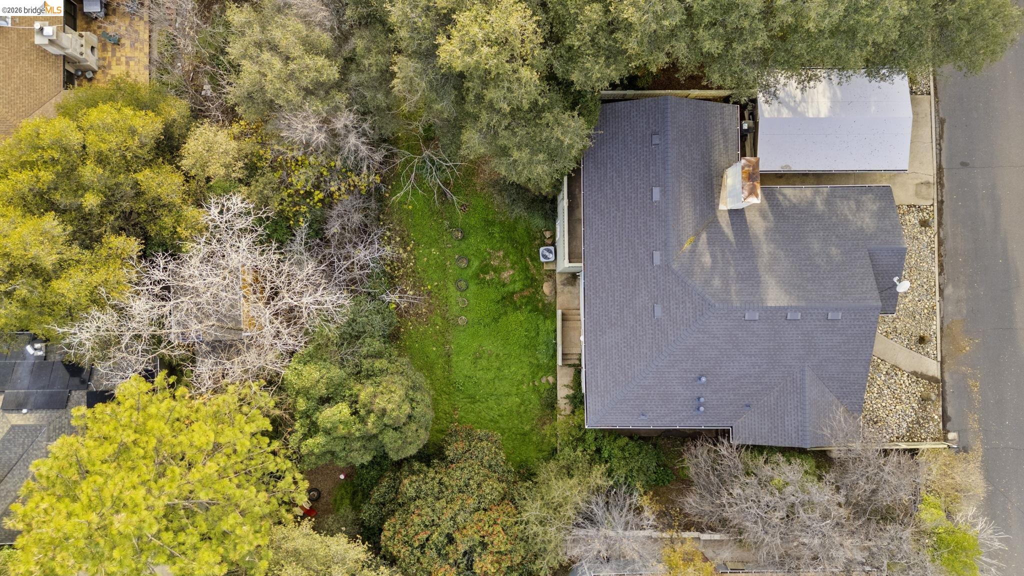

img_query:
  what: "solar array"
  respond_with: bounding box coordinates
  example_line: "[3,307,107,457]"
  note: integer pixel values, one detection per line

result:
[0,334,115,409]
